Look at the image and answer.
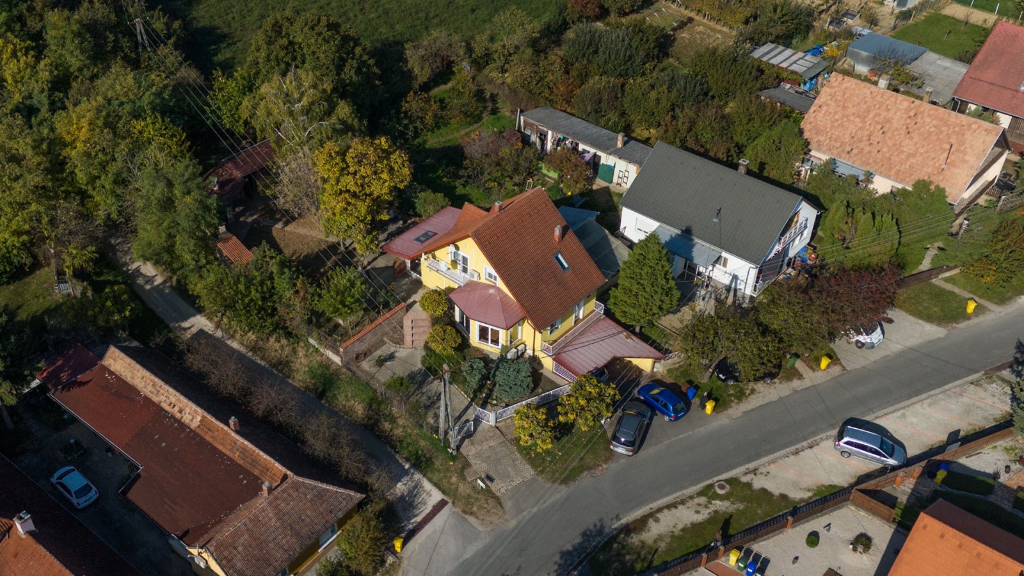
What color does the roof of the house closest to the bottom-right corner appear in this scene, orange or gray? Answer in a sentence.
From above, the roof of the house closest to the bottom-right corner appears orange.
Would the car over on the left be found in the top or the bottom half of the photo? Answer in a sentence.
The car over on the left is in the bottom half of the image.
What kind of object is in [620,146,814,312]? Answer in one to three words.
house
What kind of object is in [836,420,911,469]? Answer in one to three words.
car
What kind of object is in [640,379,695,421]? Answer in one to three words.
car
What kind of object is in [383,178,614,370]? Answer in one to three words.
house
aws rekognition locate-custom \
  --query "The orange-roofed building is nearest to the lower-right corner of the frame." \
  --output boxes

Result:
[888,490,1024,576]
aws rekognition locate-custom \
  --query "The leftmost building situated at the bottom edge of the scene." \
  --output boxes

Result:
[0,451,149,576]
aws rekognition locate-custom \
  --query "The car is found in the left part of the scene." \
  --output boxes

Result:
[45,464,99,508]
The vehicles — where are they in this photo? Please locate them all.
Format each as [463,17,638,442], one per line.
[590,363,626,390]
[45,464,99,508]
[640,379,695,421]
[848,323,887,345]
[606,402,651,458]
[836,420,911,469]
